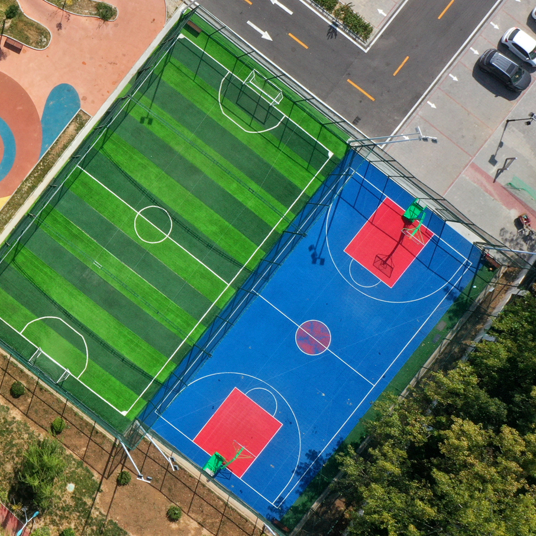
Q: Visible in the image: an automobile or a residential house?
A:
automobile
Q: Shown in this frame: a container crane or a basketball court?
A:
basketball court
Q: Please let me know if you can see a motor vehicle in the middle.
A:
No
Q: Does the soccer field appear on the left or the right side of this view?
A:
left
